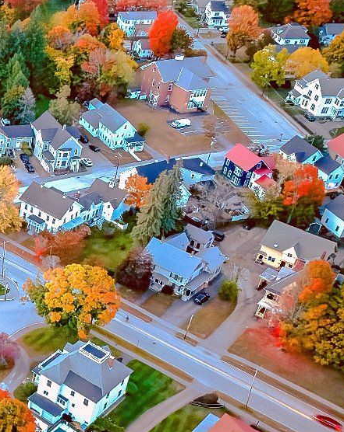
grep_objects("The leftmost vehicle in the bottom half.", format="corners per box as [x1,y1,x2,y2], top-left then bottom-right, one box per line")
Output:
[193,290,212,304]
